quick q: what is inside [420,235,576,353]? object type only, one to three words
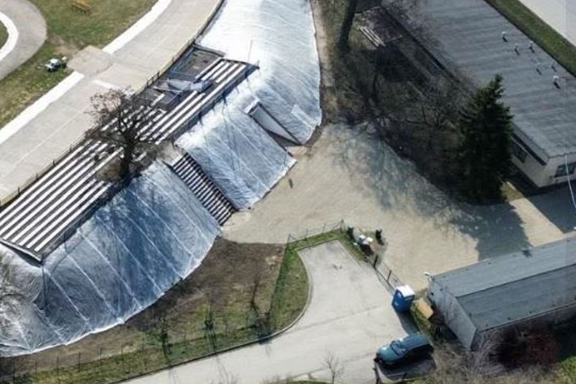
shed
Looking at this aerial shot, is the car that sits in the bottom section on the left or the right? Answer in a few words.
right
